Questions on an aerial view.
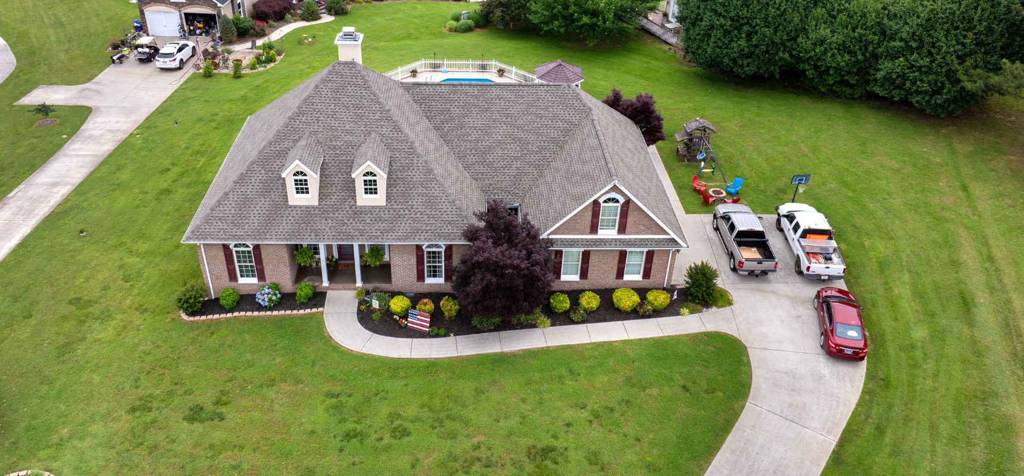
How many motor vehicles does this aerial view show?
5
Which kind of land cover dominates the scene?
grass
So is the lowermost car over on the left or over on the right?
right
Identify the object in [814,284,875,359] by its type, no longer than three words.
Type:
car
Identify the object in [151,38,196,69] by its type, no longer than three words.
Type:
car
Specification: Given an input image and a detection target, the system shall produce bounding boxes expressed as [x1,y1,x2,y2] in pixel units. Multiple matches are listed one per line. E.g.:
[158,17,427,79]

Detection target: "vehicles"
[814,284,875,359]
[129,29,161,60]
[777,200,851,284]
[151,38,196,69]
[711,202,781,278]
